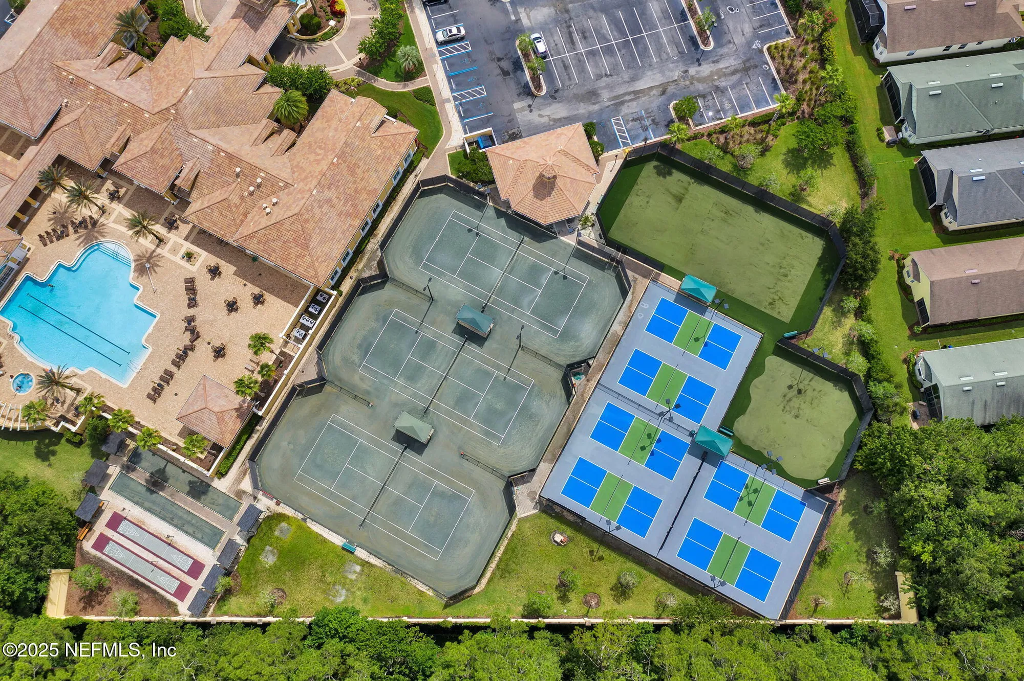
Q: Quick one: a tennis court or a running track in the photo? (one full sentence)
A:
It is a tennis court that can be seen here.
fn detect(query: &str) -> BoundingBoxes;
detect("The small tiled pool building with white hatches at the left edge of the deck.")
[0,230,29,290]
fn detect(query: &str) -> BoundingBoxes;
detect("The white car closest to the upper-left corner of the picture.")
[436,27,466,43]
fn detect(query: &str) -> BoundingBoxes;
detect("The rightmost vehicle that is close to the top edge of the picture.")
[530,33,549,57]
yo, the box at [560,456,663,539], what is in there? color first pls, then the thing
blue sports court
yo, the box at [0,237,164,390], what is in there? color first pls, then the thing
blue swimming pool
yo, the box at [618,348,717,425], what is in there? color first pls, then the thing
blue sports court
